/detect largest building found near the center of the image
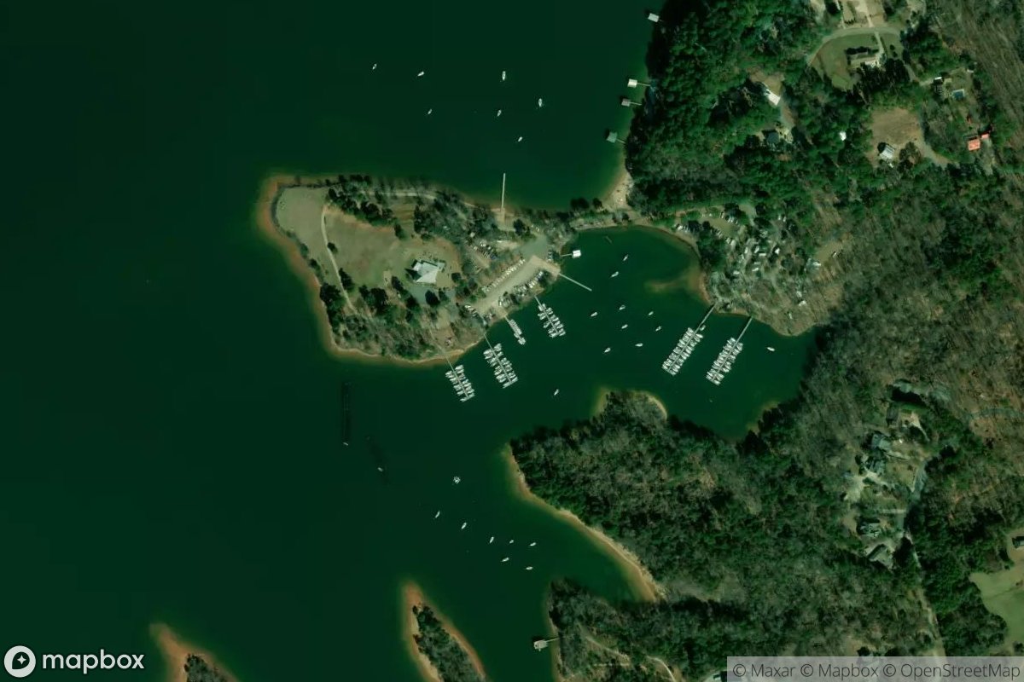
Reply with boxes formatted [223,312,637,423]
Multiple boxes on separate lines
[417,262,438,282]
